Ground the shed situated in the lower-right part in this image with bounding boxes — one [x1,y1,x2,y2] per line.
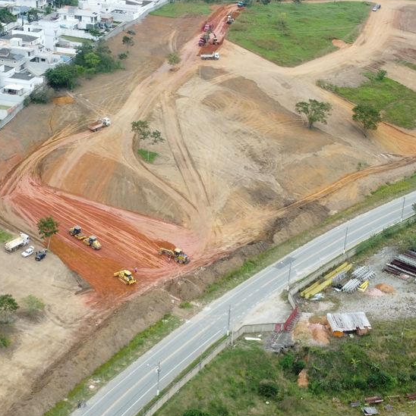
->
[320,308,372,337]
